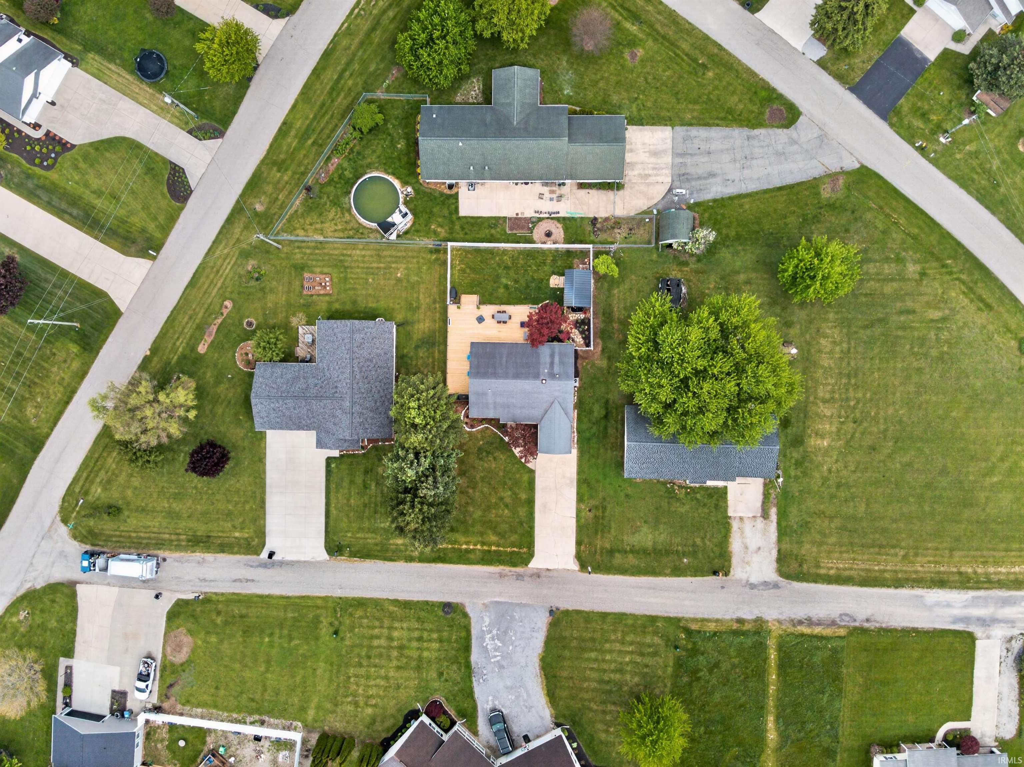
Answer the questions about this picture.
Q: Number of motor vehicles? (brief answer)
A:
3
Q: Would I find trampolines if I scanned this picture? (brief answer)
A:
Yes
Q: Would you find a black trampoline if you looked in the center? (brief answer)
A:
No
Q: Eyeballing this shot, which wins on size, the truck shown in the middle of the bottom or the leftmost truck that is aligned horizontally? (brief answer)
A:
the leftmost truck that is aligned horizontally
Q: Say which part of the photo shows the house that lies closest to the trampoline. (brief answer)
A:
top left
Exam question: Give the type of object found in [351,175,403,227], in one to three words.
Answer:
swimming pool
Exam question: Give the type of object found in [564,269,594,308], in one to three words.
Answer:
building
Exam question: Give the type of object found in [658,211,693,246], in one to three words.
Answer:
shed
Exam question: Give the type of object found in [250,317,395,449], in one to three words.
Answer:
house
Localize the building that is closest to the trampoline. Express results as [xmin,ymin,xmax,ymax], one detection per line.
[0,13,76,124]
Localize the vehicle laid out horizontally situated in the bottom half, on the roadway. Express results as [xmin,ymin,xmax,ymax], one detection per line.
[80,548,164,577]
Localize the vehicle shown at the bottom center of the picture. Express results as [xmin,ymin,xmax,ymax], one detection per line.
[488,708,514,755]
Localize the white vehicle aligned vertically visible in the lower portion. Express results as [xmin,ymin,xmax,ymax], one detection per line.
[133,655,158,701]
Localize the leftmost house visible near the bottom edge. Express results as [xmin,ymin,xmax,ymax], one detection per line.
[51,708,142,767]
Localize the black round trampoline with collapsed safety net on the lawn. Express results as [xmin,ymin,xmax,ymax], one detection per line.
[134,48,169,84]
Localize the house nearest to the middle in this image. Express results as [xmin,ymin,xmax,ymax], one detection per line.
[469,342,575,455]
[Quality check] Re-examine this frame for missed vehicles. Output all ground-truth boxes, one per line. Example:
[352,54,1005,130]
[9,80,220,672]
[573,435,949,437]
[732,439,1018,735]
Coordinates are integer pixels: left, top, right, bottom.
[80,548,164,577]
[133,655,158,701]
[488,708,514,755]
